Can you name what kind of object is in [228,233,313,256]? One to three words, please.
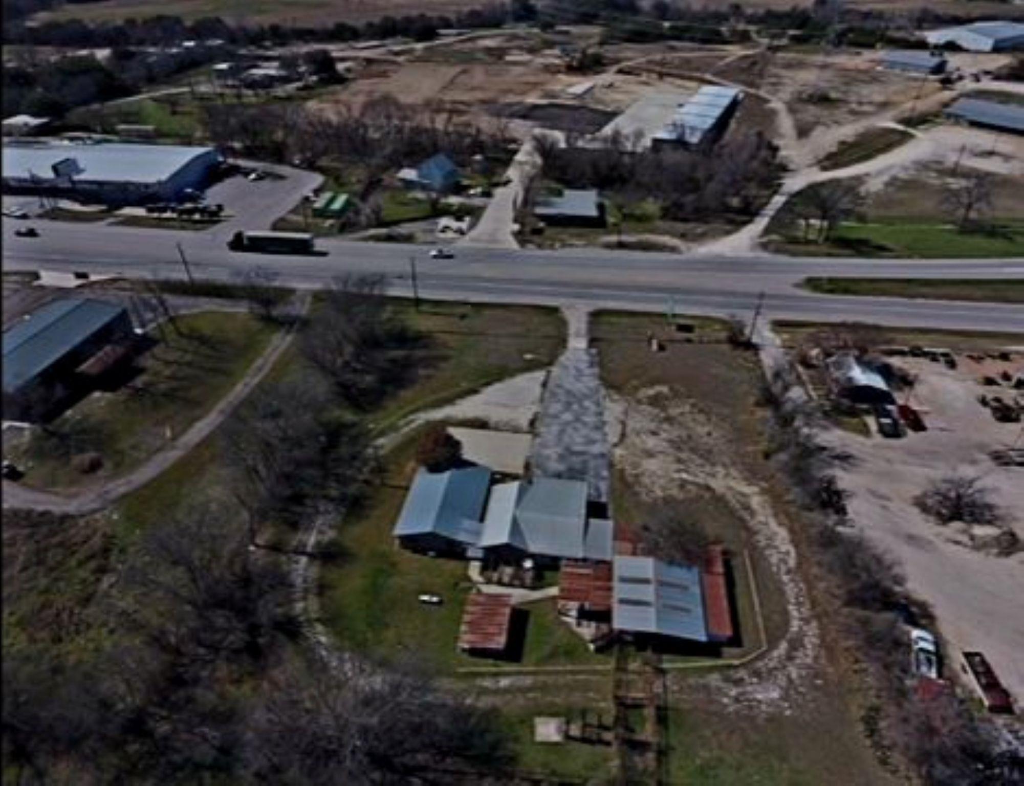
truck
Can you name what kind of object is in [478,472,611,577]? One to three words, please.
house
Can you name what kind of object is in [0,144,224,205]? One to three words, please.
building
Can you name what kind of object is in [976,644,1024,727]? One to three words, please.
trailer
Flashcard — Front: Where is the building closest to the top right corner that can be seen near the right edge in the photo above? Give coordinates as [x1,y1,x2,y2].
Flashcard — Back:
[927,19,1024,51]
